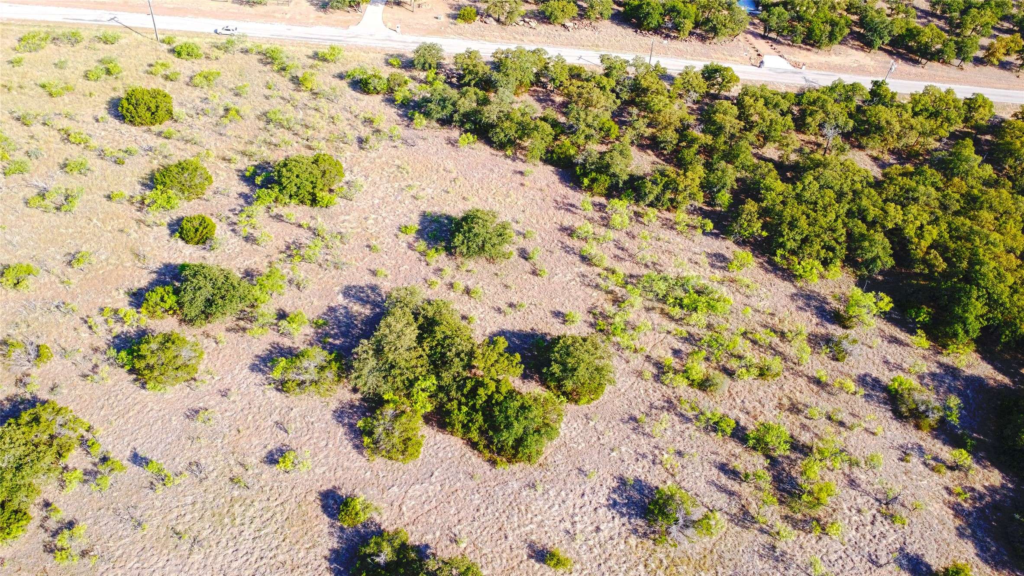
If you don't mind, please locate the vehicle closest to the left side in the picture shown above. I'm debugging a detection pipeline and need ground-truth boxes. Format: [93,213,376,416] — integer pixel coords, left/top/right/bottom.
[214,23,240,35]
